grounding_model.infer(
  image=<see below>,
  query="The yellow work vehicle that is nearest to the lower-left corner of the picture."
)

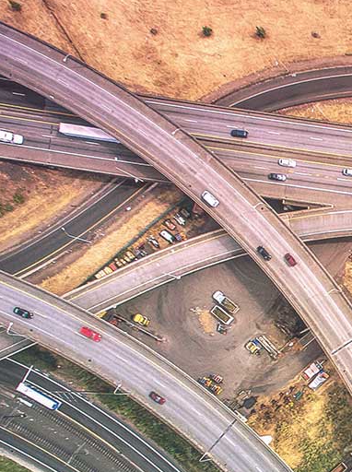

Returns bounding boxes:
[128,312,150,326]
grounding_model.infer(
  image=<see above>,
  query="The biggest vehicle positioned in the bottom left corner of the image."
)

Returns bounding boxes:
[12,381,59,409]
